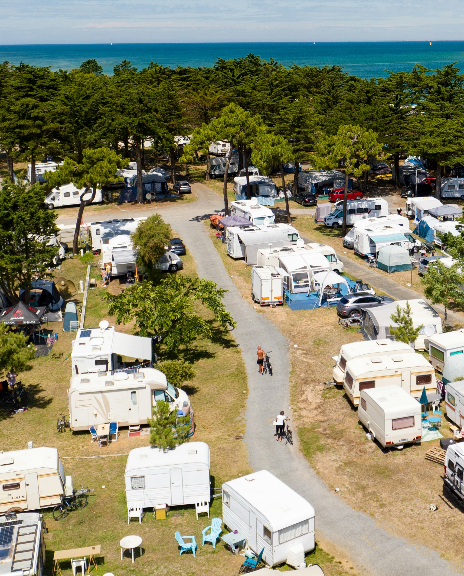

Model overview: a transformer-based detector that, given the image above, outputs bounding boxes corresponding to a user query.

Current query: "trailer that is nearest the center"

[251,268,283,307]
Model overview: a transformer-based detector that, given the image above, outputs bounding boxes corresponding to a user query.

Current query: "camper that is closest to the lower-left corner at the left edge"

[0,515,54,576]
